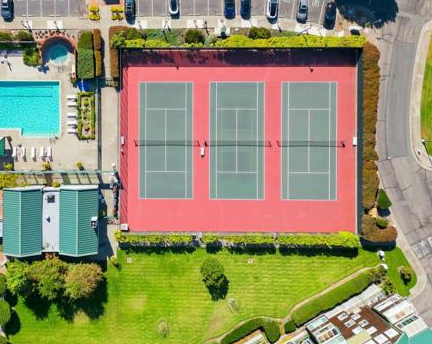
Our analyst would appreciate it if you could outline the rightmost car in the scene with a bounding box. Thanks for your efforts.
[323,1,338,27]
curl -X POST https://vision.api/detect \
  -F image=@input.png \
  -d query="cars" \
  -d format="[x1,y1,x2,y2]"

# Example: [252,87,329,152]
[0,0,12,18]
[168,0,178,14]
[297,0,309,21]
[224,0,236,16]
[240,0,251,16]
[124,0,136,18]
[266,0,278,18]
[323,1,338,27]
